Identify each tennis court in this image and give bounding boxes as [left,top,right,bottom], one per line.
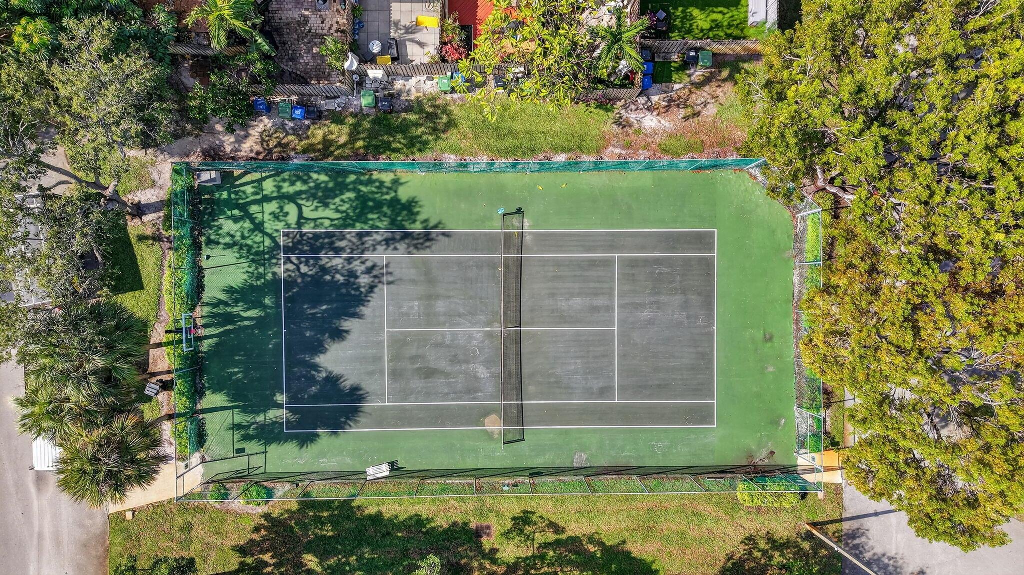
[206,172,793,475]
